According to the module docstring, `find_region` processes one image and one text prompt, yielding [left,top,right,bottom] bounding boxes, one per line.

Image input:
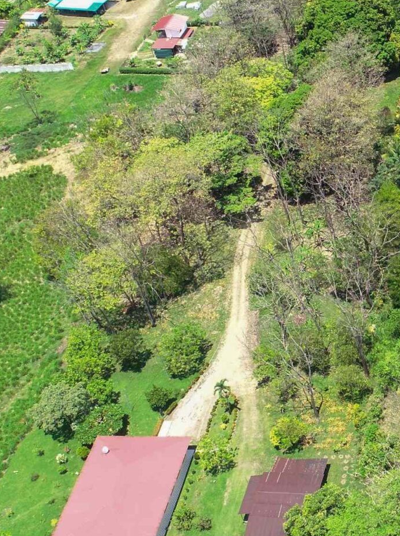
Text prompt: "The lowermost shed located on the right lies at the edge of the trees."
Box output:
[238,457,328,536]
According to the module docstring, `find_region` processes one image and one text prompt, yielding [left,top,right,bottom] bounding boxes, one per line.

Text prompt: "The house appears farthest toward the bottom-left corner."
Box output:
[53,436,199,536]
